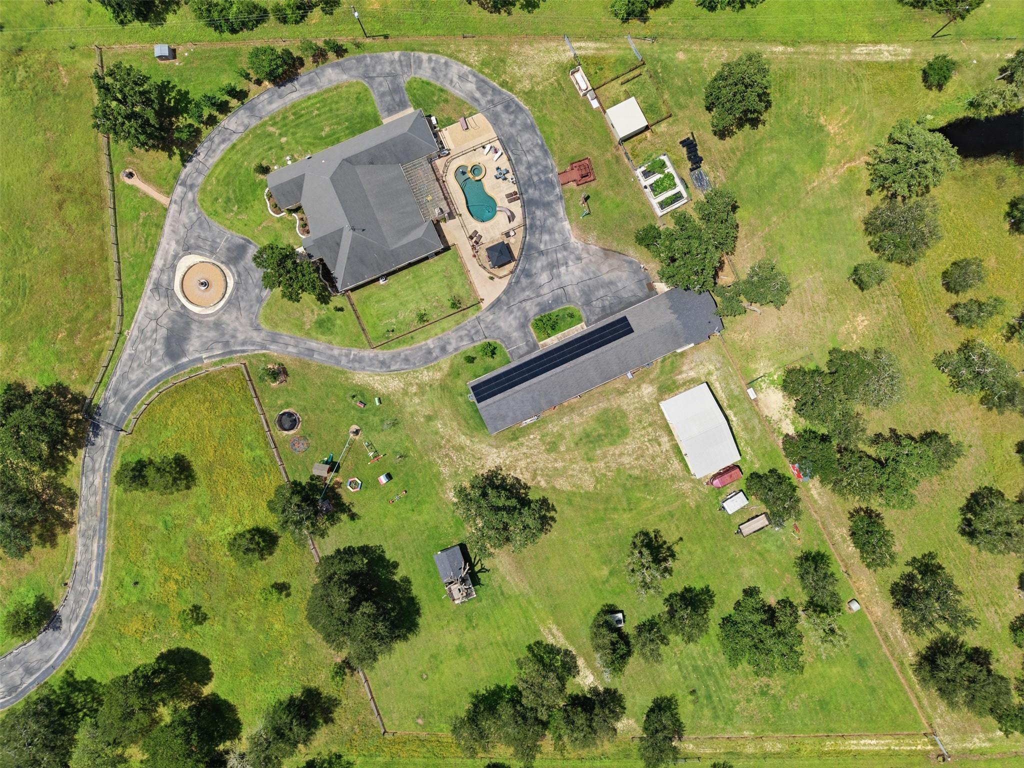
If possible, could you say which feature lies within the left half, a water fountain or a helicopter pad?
water fountain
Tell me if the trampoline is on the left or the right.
left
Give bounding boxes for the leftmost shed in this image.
[150,40,169,60]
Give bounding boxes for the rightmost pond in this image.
[930,106,1024,169]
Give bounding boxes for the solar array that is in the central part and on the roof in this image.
[471,316,634,404]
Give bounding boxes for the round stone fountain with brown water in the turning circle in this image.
[180,261,227,307]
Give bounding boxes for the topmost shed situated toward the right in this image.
[604,96,648,143]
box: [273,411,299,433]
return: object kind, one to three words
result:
trampoline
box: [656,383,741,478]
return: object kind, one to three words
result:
barn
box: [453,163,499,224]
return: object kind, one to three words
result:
swimming pool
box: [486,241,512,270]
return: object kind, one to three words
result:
gazebo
